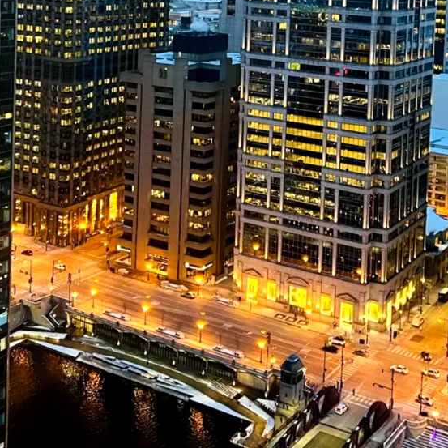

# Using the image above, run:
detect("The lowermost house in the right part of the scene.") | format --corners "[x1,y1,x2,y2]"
[258,349,325,441]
